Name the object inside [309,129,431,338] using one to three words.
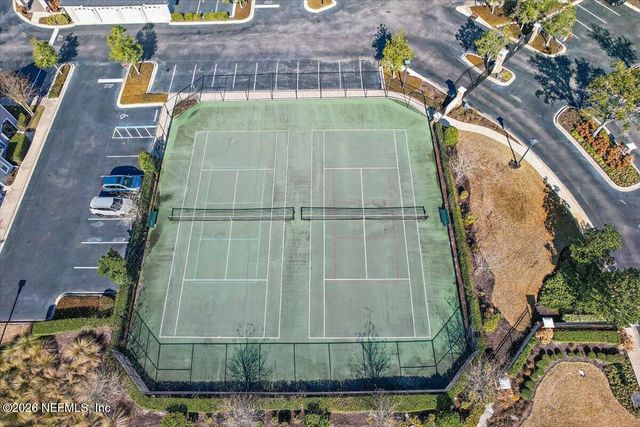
tennis court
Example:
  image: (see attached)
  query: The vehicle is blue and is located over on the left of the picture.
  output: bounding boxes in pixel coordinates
[99,171,139,192]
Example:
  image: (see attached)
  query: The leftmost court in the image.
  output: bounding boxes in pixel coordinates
[159,130,289,338]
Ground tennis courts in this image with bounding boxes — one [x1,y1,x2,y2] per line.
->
[309,129,431,338]
[159,130,289,338]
